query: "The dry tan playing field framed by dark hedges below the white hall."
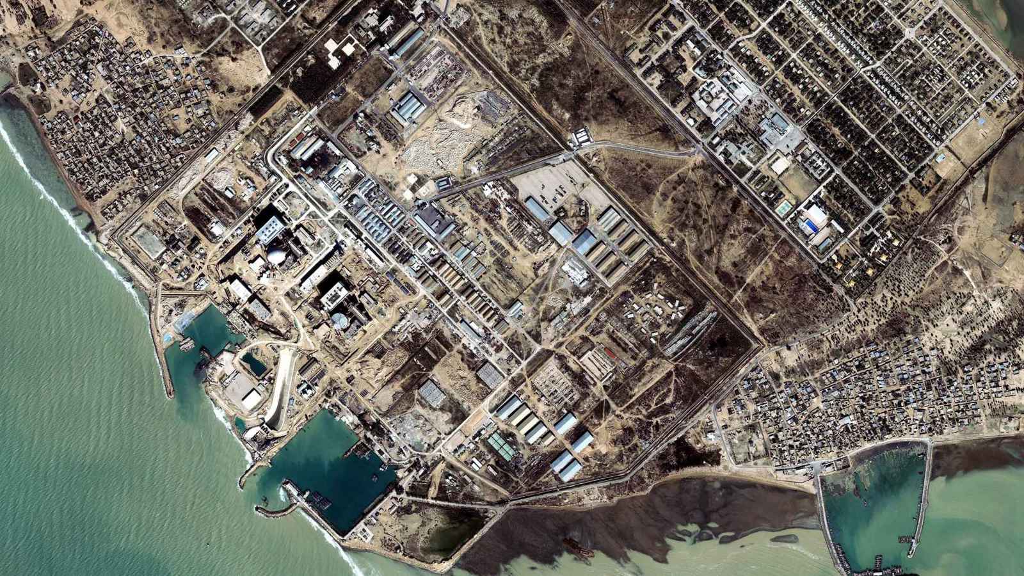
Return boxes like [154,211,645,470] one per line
[781,164,818,201]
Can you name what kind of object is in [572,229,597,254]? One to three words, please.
building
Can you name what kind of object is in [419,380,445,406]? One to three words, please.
building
